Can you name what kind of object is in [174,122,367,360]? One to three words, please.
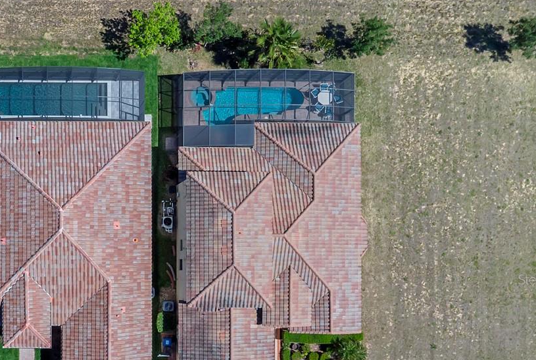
house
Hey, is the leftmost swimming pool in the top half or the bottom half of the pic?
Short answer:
top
